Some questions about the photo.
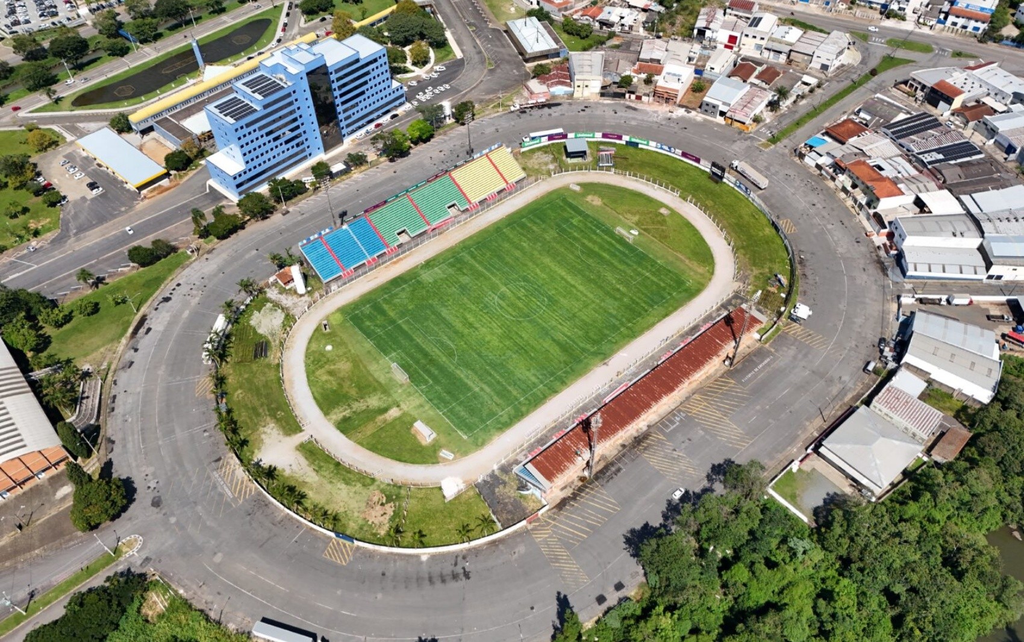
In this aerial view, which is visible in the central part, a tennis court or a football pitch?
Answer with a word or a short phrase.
football pitch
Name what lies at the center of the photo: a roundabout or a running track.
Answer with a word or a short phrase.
running track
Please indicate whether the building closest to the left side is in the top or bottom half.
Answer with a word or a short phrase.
bottom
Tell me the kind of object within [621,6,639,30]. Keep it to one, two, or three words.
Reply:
house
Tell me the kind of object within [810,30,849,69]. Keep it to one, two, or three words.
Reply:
building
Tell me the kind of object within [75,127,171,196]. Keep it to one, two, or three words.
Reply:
shed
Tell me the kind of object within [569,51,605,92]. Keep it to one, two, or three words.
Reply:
building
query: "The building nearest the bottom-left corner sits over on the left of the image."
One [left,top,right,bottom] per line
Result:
[0,338,85,516]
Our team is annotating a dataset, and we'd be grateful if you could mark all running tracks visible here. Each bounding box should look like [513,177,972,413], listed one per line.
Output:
[283,171,736,486]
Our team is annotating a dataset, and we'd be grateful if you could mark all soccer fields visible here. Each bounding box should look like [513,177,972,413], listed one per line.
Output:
[344,194,692,441]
